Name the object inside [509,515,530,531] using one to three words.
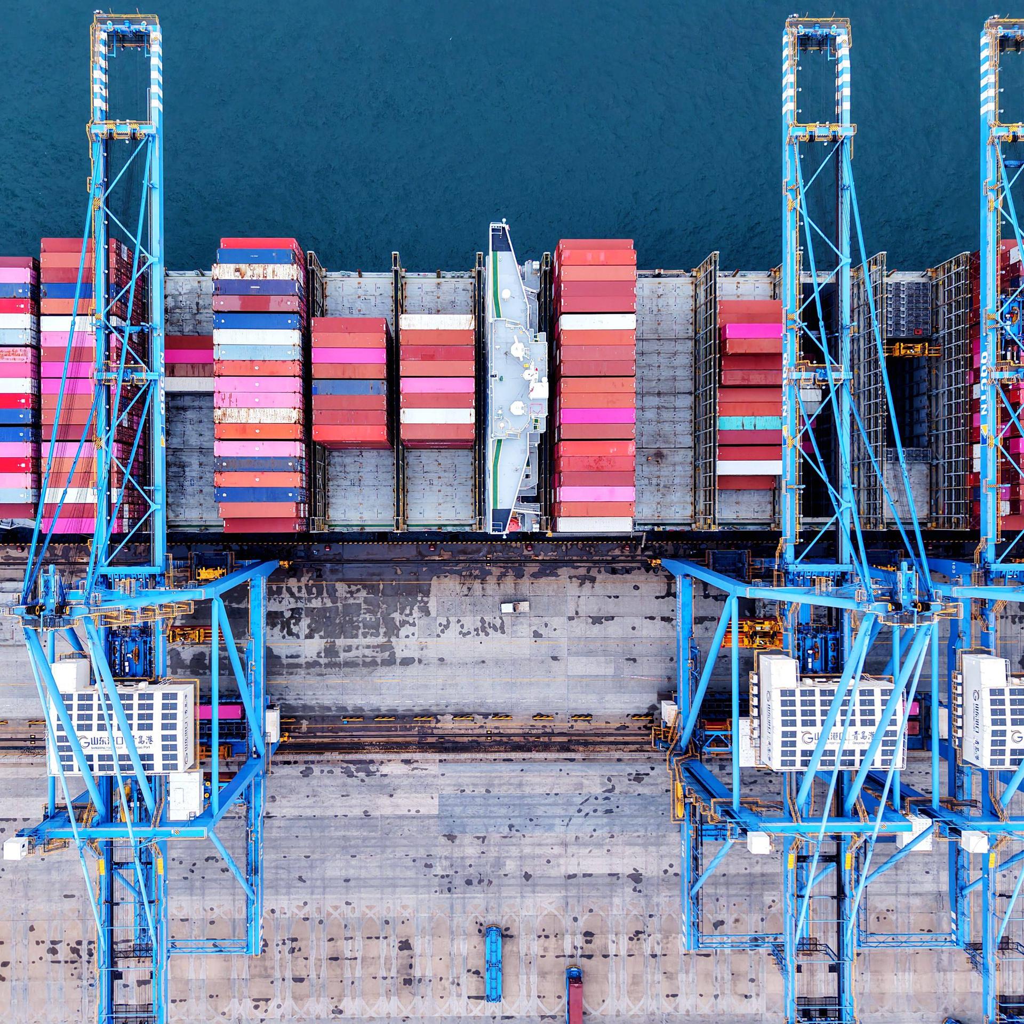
boat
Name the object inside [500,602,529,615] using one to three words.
vehicle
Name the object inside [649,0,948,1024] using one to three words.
container crane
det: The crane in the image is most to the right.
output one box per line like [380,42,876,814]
[799,0,1024,1024]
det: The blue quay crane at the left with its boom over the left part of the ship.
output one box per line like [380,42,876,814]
[0,0,288,1024]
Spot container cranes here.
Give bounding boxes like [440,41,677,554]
[799,0,1024,1024]
[649,0,948,1024]
[0,0,288,1024]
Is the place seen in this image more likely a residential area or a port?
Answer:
port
